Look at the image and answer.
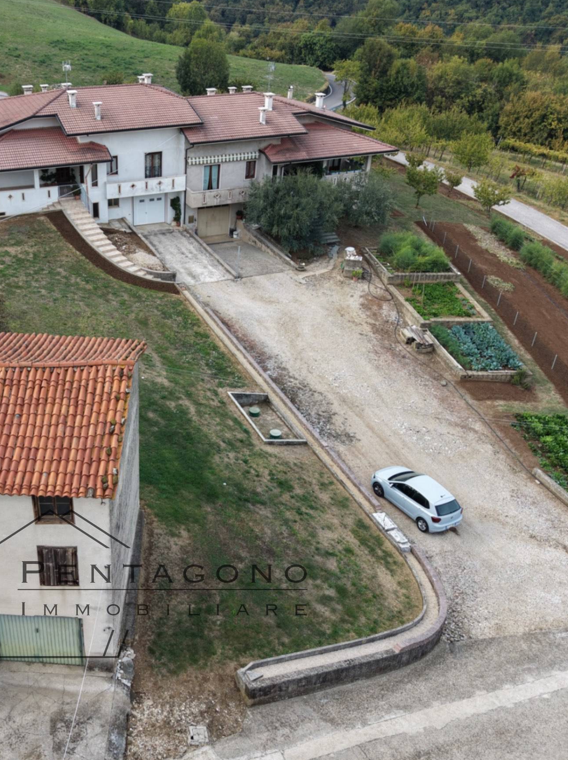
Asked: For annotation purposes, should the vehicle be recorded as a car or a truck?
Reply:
car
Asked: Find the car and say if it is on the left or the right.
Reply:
right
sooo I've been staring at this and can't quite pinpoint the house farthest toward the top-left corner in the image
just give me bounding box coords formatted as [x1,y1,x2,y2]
[0,44,204,231]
